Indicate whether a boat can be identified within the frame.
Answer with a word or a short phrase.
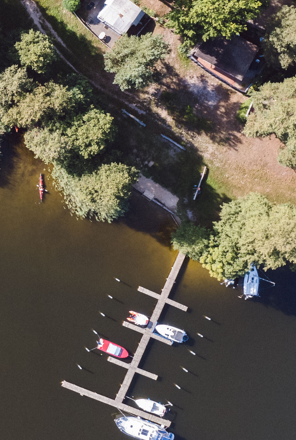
Yes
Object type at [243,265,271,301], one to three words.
boat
